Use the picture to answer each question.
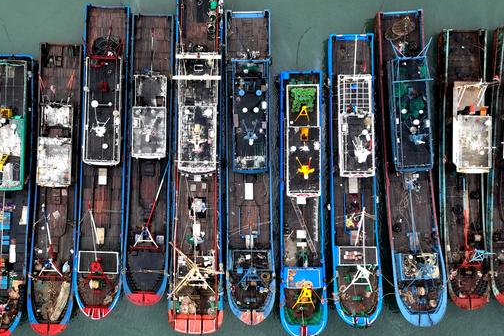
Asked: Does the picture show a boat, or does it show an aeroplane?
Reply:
boat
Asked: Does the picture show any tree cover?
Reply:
No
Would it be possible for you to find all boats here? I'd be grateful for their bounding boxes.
[325,35,382,328]
[26,45,84,336]
[165,0,225,335]
[372,12,448,328]
[276,71,328,336]
[223,11,275,325]
[122,15,176,306]
[485,26,504,303]
[74,6,132,321]
[433,30,497,310]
